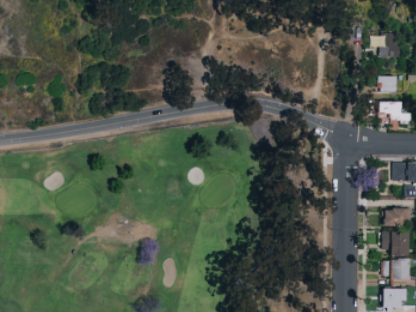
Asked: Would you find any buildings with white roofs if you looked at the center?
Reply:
No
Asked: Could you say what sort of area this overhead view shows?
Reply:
golf course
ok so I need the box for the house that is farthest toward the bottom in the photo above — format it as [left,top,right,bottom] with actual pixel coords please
[384,288,408,309]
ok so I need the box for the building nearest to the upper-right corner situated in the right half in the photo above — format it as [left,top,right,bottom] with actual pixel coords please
[366,30,400,56]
